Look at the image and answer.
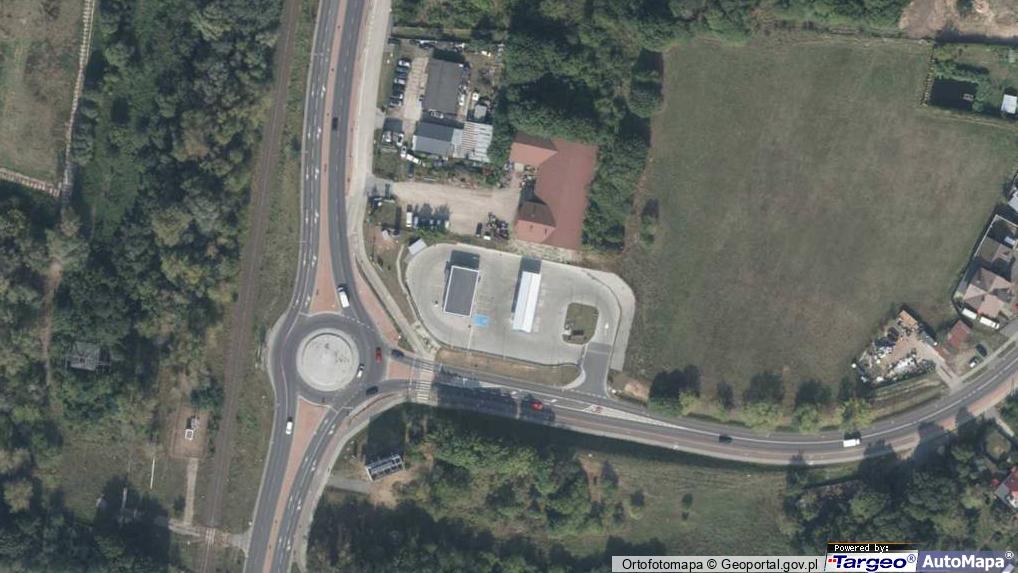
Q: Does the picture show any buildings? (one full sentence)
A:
Yes, this view includes a building.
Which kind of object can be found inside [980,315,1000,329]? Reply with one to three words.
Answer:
vehicle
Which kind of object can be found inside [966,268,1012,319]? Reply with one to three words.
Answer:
house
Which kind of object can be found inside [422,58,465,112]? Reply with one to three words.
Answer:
building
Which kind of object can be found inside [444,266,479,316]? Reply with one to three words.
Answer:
building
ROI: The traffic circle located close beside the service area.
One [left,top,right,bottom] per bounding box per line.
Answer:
[270,313,385,407]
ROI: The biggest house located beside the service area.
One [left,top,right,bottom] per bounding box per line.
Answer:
[510,131,597,248]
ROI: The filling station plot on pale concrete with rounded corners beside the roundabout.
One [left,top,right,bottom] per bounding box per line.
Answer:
[406,243,635,371]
